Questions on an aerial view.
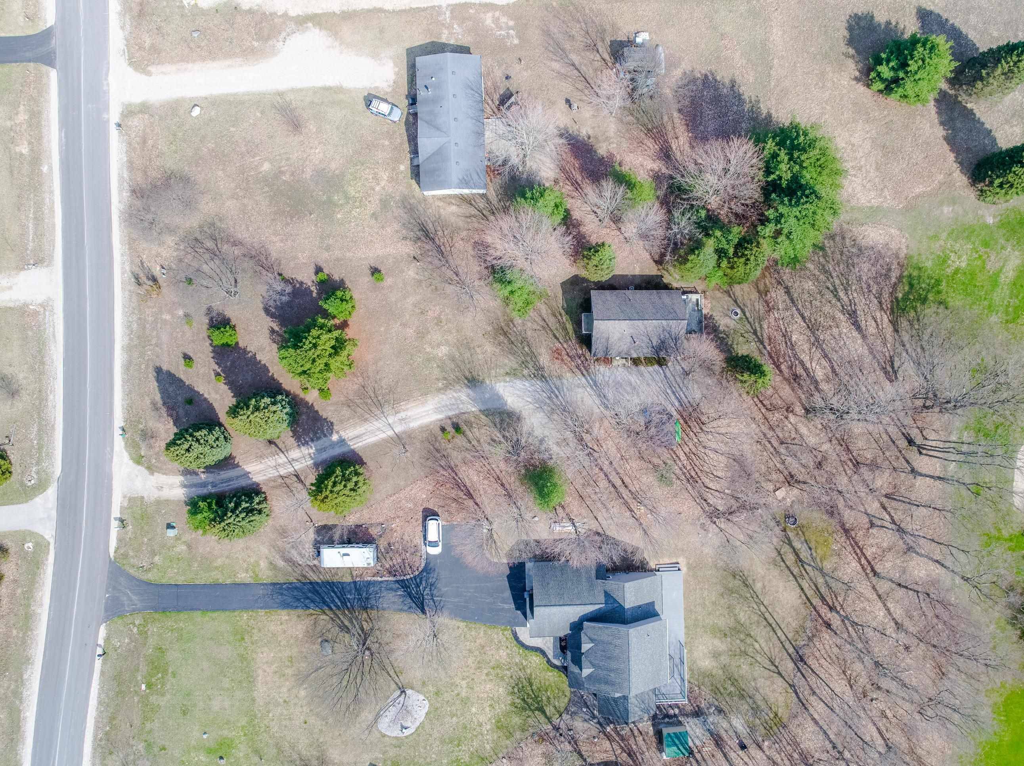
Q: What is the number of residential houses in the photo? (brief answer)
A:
3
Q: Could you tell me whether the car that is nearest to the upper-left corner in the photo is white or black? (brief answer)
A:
white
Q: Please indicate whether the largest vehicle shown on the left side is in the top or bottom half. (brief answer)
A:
bottom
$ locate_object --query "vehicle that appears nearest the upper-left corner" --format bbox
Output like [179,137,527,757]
[365,97,405,124]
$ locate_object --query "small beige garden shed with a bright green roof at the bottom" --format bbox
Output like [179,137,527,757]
[662,724,689,757]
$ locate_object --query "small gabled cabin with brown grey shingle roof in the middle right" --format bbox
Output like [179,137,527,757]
[581,289,707,372]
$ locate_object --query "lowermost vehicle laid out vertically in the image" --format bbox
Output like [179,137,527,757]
[424,516,443,554]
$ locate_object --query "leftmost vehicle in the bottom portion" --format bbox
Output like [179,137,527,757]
[318,543,378,568]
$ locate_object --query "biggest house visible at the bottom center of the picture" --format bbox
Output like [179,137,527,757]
[524,556,688,723]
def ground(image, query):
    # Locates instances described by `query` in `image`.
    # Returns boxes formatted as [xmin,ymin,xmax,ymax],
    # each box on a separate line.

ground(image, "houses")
[403,52,521,196]
[581,289,707,372]
[524,556,688,723]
